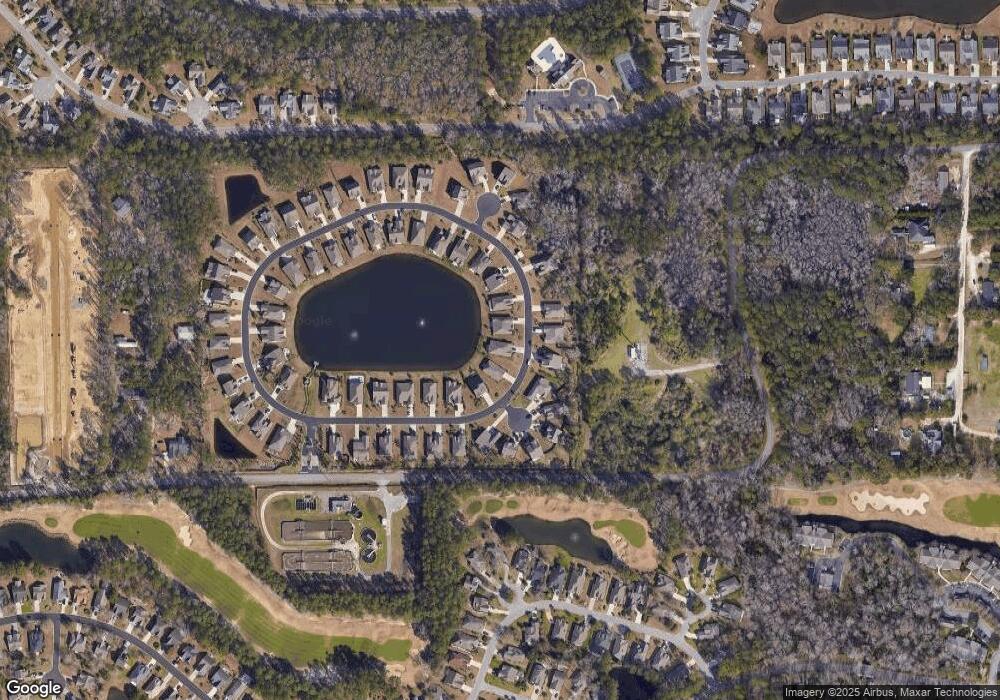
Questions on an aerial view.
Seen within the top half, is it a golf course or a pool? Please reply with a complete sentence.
It is a pool that can be seen within the top half.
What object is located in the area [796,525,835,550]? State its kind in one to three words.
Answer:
building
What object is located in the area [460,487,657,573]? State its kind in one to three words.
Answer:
golf course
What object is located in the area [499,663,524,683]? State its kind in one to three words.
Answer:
house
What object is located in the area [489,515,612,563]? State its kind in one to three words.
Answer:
pond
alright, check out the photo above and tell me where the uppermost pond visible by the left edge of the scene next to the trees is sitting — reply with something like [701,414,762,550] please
[0,519,91,577]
